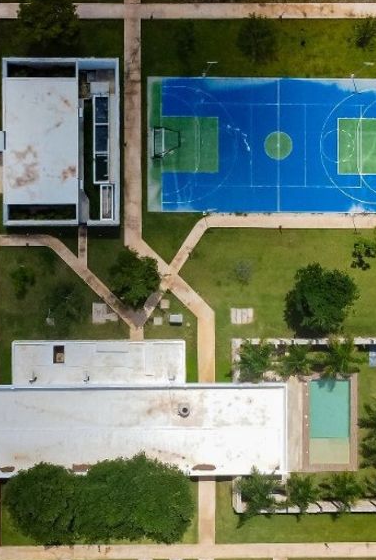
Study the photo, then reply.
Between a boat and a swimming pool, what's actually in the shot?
swimming pool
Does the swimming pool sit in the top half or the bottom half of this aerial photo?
bottom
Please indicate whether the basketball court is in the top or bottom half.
top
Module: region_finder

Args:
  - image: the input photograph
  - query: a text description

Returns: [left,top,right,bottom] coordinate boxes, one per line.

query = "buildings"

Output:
[0,58,119,227]
[0,339,287,478]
